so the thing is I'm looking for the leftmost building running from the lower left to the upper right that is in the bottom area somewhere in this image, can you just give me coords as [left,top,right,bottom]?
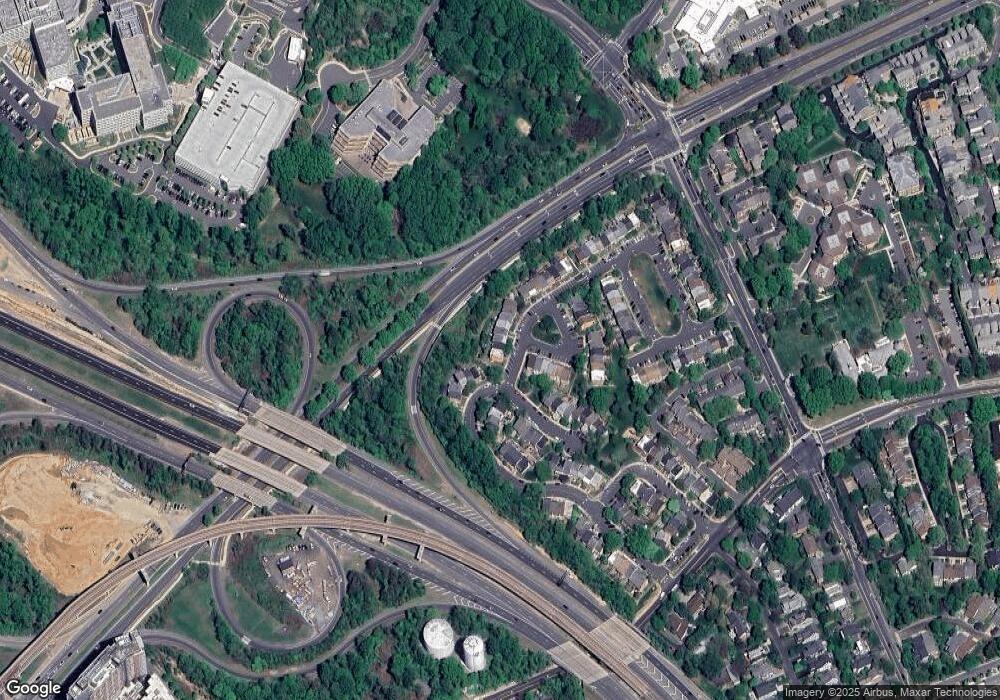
[62,630,148,700]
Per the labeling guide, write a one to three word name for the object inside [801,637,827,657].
house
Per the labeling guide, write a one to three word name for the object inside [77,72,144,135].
building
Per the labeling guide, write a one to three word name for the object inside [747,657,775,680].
house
